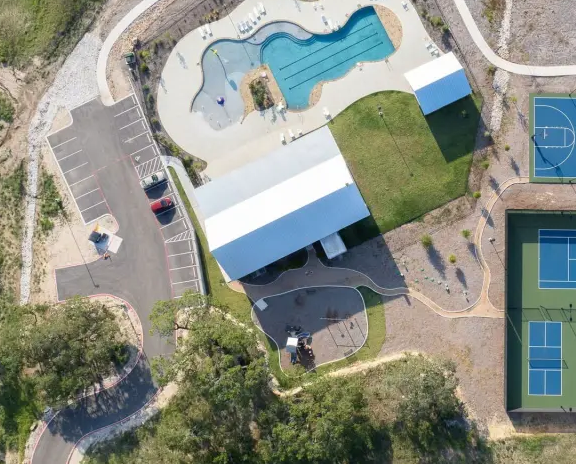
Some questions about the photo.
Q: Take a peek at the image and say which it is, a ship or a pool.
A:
pool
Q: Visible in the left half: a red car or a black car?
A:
red car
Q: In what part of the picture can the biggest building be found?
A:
center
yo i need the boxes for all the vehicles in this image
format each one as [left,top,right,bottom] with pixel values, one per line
[147,195,174,213]
[137,171,166,190]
